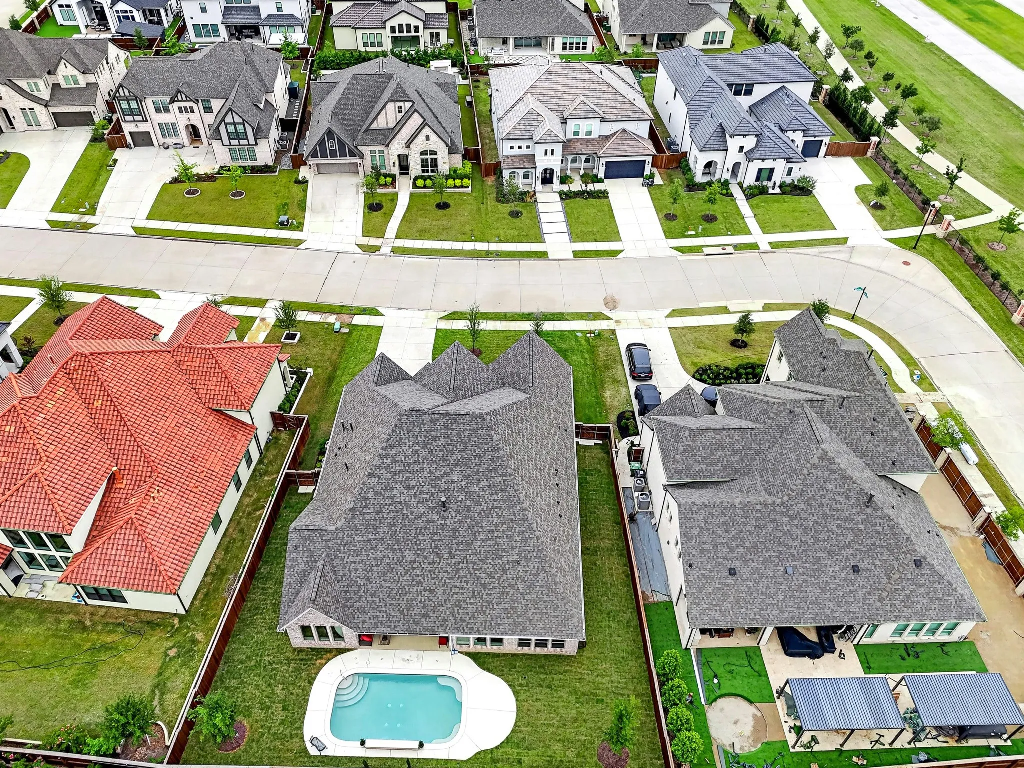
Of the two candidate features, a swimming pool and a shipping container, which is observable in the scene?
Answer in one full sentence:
Looking from above, you can make out a swimming pool.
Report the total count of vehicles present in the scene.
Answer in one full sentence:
Looking from above, you can make out 3 vehicles.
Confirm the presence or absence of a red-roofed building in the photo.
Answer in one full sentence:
Yes, you can see a red-roofed building in this photo.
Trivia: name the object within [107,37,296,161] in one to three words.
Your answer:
house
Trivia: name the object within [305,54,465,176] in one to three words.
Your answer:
house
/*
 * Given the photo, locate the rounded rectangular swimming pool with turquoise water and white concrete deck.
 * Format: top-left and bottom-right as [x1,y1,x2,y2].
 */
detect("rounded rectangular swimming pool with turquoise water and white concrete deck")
[304,652,517,760]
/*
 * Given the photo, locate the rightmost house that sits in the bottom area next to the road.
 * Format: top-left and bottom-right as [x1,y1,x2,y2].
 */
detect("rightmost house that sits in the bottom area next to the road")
[641,308,989,656]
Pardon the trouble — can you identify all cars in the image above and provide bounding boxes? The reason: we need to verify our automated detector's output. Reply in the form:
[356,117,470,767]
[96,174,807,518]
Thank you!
[625,344,657,386]
[634,392,663,435]
[695,380,724,405]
